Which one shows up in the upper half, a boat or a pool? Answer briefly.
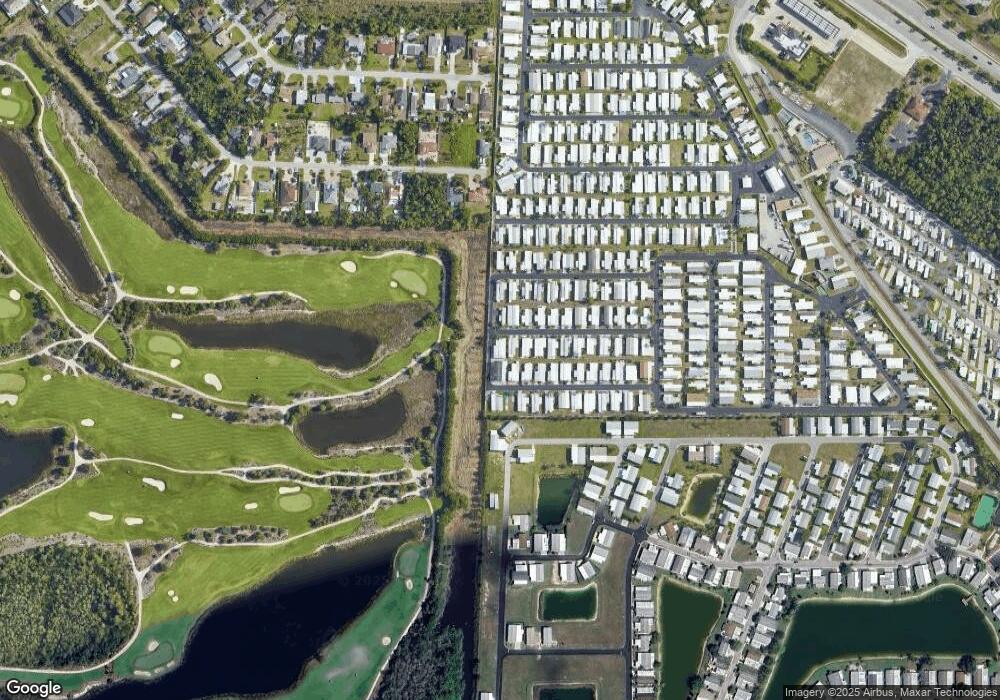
pool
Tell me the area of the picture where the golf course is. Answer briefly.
left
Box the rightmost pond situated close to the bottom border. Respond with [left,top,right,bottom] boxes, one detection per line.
[658,579,723,700]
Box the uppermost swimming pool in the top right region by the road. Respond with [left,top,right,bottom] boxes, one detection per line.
[788,117,834,152]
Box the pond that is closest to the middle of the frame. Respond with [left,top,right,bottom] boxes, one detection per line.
[537,476,577,525]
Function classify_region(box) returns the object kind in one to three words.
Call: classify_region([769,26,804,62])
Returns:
house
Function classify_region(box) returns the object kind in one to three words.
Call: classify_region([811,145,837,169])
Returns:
building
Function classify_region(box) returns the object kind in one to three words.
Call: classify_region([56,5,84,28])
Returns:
house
